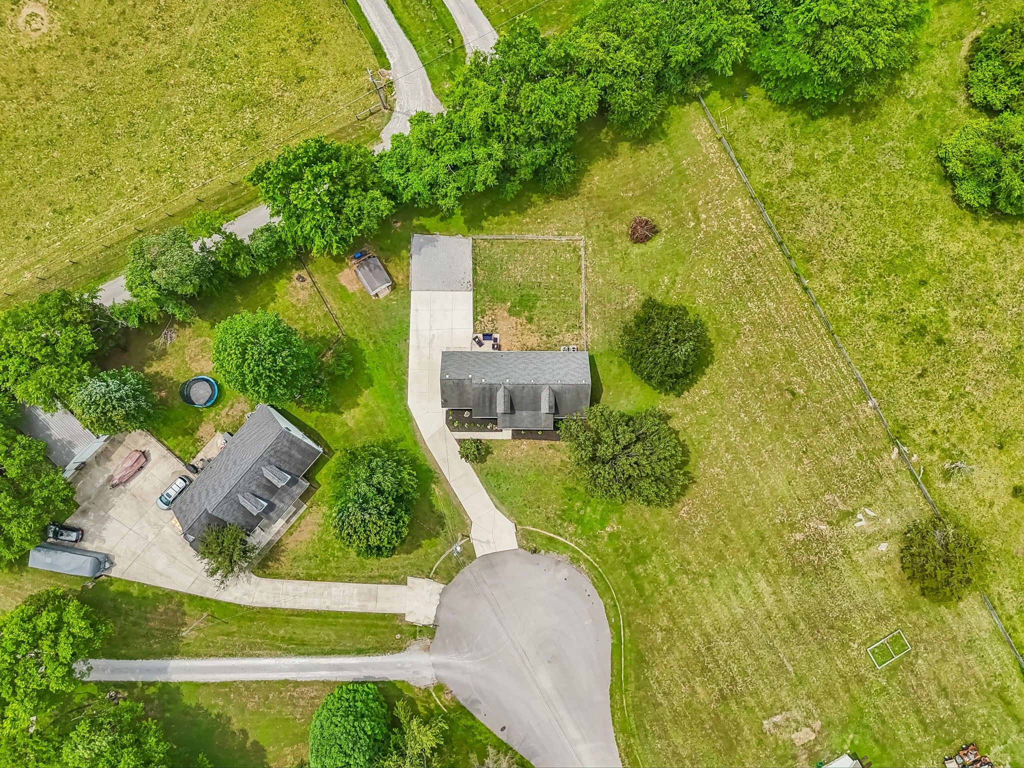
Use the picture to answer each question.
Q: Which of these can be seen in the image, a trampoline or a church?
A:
trampoline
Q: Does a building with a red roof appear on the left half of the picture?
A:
No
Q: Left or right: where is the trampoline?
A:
left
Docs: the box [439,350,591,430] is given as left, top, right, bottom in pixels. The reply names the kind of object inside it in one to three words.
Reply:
house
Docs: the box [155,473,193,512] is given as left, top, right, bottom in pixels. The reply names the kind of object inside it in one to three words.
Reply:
car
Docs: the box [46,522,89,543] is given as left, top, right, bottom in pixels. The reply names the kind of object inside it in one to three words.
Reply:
car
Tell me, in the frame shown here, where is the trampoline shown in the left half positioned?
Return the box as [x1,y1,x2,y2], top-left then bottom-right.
[176,375,216,408]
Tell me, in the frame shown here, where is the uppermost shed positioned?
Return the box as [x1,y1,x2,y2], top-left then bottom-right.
[353,253,391,298]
